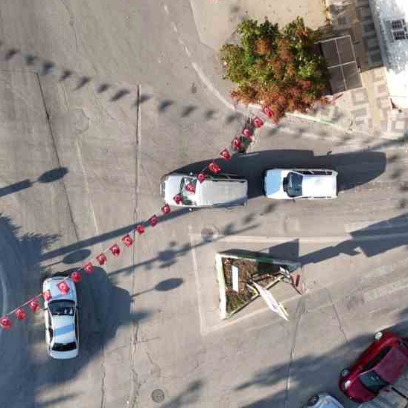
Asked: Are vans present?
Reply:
Yes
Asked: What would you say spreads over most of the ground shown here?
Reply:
paved ground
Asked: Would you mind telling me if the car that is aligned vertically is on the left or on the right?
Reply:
left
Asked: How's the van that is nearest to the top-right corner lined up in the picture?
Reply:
from side to side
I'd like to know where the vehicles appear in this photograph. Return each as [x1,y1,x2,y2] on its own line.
[301,393,338,408]
[335,328,408,400]
[41,271,81,358]
[158,171,249,210]
[259,165,338,203]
